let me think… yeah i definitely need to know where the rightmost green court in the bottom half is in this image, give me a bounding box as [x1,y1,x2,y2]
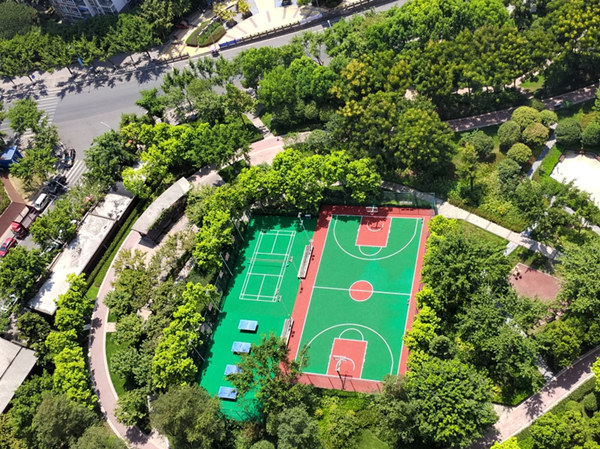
[289,205,435,395]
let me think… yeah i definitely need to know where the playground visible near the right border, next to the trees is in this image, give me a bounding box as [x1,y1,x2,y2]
[549,151,600,207]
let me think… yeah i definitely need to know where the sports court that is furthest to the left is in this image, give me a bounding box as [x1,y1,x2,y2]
[239,230,295,302]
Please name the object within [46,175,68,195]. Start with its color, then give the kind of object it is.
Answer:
black car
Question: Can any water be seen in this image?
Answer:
No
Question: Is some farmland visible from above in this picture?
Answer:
No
